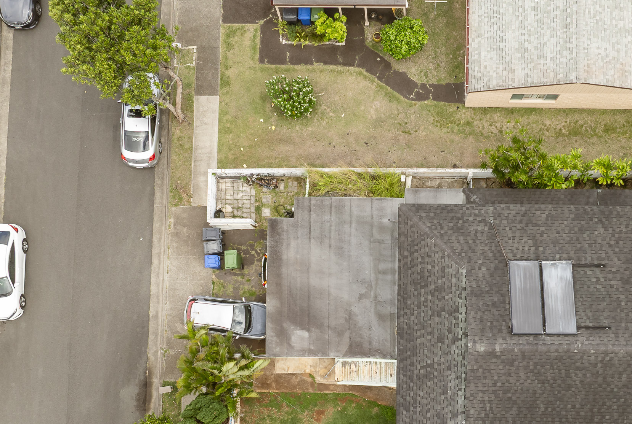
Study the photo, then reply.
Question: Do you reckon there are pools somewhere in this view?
No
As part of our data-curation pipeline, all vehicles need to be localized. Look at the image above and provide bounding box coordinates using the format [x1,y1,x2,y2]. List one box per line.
[182,298,266,345]
[0,0,41,31]
[0,224,25,320]
[114,73,164,170]
[243,174,283,189]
